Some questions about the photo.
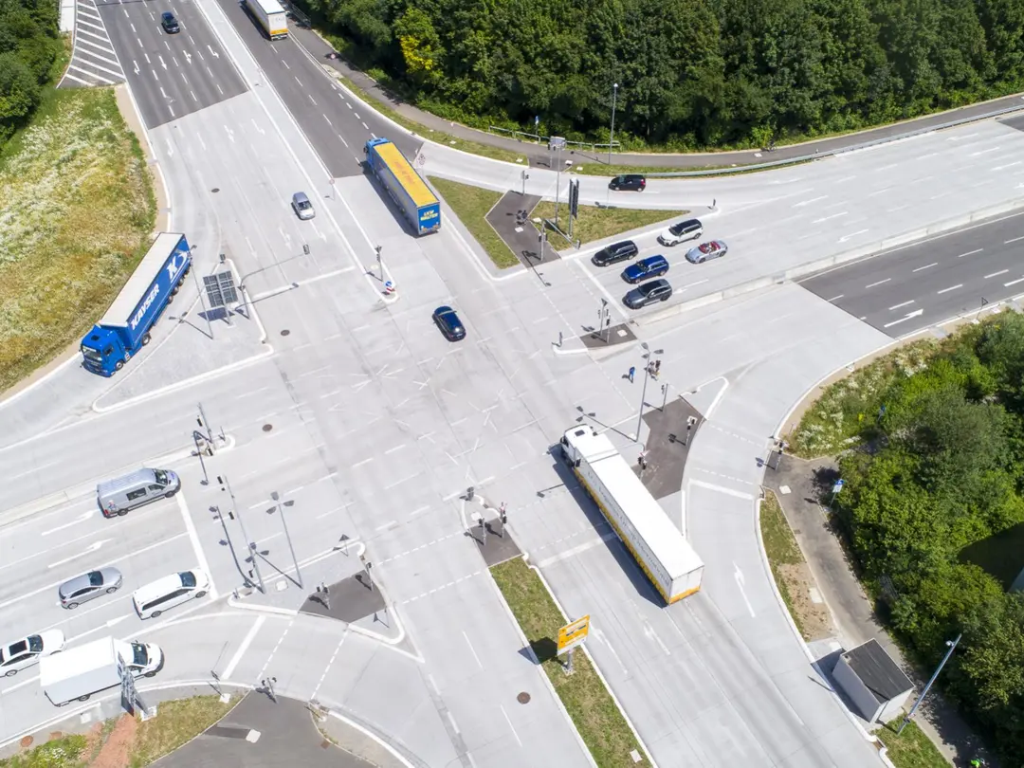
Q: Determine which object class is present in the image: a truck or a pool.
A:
truck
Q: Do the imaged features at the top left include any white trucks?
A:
Yes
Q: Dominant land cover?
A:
paved ground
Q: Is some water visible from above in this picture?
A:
No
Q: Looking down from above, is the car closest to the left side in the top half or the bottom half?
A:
bottom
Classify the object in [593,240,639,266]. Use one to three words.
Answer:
car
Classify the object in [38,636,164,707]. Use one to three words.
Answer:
truck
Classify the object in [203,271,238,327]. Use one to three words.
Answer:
solar panel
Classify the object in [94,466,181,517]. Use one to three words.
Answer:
van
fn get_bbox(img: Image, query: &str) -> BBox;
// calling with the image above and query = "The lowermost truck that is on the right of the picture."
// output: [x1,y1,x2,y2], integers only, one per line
[555,423,703,605]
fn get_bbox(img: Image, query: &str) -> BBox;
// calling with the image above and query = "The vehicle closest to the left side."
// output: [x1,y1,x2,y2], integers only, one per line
[0,627,70,677]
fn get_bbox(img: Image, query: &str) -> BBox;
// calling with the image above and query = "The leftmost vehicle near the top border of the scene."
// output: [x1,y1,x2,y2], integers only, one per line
[161,12,181,34]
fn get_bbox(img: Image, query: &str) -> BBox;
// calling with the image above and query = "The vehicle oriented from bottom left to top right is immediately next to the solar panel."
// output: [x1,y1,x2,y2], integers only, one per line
[76,232,191,381]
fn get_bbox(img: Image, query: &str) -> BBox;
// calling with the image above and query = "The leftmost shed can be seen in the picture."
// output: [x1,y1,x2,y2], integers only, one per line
[833,638,914,722]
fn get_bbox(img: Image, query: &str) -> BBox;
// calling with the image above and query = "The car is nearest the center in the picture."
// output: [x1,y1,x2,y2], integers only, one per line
[435,307,467,344]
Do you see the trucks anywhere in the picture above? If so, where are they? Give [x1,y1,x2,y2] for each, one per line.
[555,423,703,605]
[362,136,441,232]
[244,0,289,39]
[76,232,191,381]
[38,636,164,707]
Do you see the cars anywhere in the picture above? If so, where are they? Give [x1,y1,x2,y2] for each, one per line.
[0,627,70,677]
[289,190,315,220]
[610,172,647,192]
[622,255,671,283]
[435,307,467,344]
[621,276,674,308]
[687,239,730,263]
[132,566,212,619]
[55,566,123,608]
[593,240,639,266]
[659,217,705,246]
[161,12,181,34]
